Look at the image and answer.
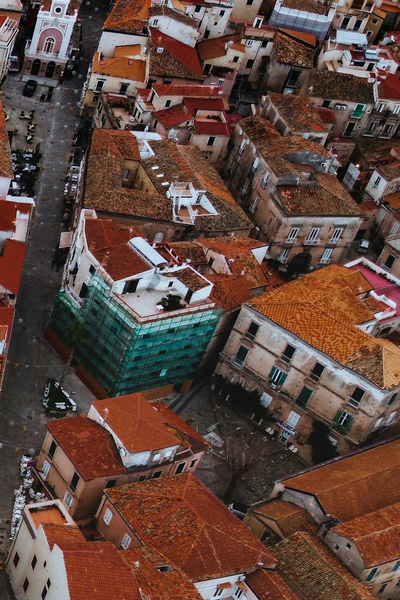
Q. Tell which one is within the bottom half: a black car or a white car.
black car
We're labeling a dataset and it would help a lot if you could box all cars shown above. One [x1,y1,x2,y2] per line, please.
[25,82,37,94]
[220,493,253,523]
